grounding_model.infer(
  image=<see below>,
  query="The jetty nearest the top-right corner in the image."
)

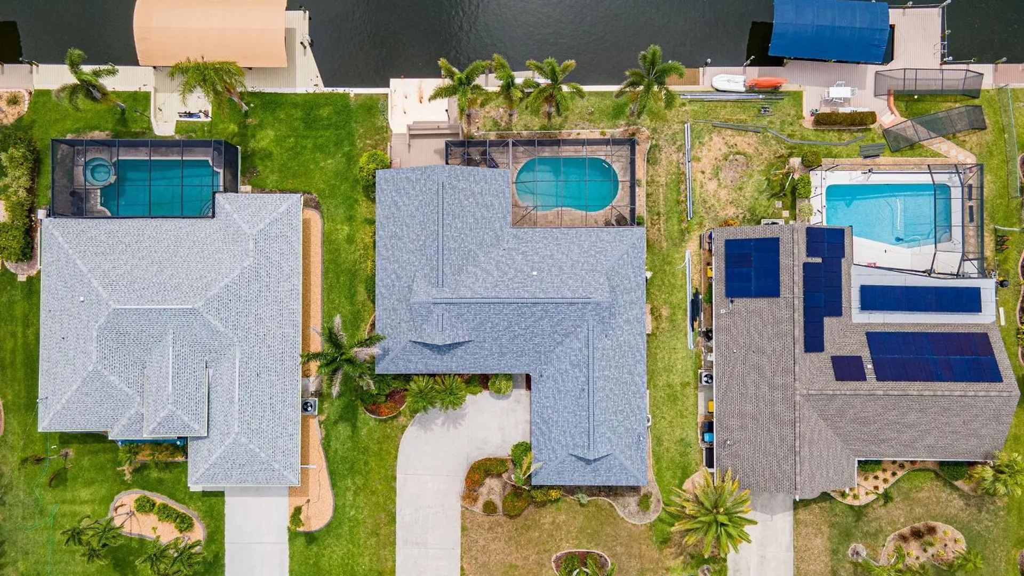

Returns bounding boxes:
[993,64,1024,84]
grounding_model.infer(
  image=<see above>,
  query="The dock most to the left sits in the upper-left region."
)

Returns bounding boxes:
[0,62,34,84]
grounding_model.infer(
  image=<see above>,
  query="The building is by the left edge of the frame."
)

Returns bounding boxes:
[38,191,316,488]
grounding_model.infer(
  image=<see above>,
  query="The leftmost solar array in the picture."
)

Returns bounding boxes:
[725,238,781,297]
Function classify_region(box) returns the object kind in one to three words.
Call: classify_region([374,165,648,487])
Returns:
house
